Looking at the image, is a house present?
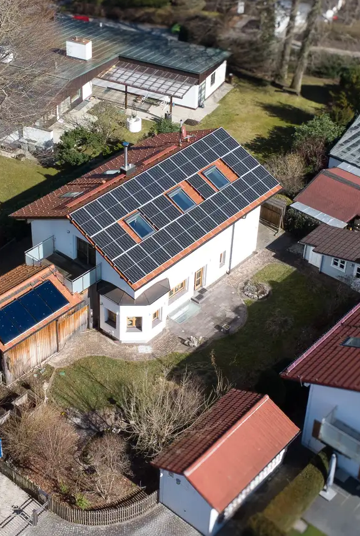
Yes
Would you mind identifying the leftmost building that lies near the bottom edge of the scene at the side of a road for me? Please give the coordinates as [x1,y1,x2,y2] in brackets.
[148,387,301,536]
